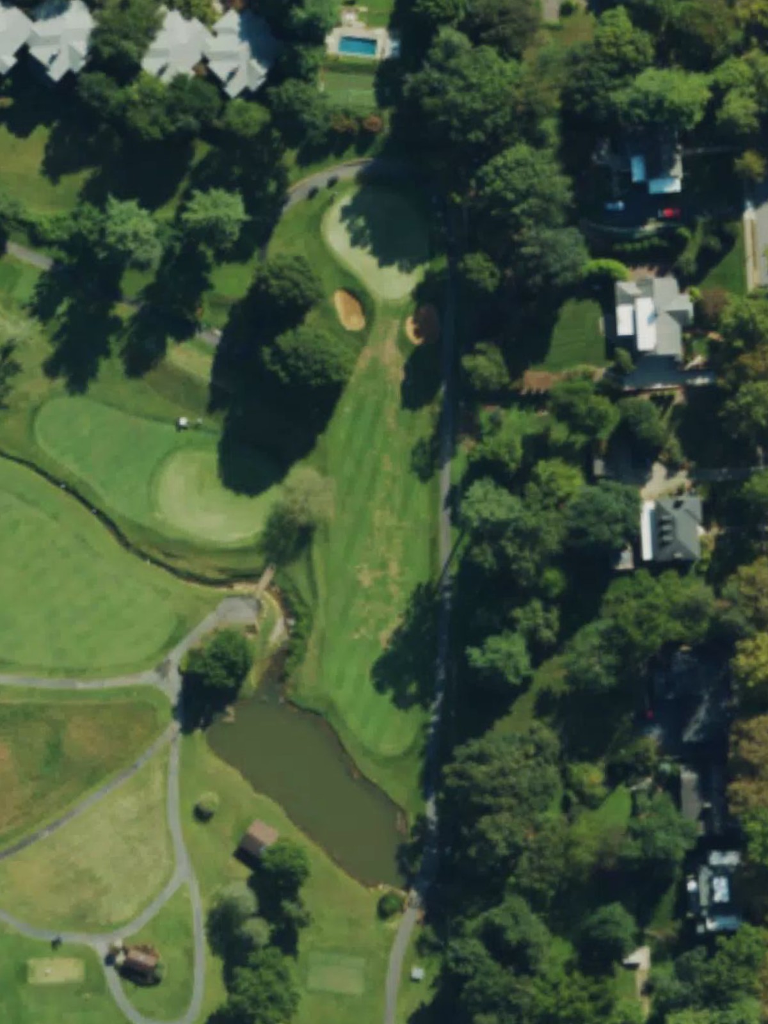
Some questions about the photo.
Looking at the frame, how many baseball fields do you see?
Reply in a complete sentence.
There are no baseball fields in this view.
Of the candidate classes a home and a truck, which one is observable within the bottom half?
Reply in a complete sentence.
Looking within the bottom half, you will find a home.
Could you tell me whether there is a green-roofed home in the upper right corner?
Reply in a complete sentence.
No, I see no green-roofed home in the upper right corner.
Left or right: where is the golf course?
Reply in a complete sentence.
It is on the left.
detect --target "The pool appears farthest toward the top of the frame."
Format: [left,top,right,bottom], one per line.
[339,38,375,53]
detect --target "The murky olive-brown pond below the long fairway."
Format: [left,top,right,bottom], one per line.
[207,668,411,888]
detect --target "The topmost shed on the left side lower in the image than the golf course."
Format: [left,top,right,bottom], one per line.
[235,818,272,855]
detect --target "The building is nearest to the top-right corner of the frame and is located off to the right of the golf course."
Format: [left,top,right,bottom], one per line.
[628,134,682,194]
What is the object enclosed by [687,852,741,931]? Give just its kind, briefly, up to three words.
house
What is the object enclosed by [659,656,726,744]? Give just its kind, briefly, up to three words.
house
